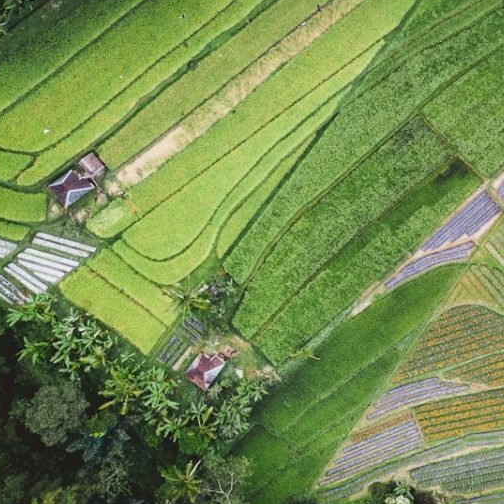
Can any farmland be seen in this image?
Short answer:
Yes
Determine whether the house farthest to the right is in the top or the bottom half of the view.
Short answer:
bottom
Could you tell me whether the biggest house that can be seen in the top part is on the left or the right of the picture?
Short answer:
left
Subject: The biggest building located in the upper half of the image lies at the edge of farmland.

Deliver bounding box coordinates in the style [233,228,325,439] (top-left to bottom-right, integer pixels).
[47,169,97,210]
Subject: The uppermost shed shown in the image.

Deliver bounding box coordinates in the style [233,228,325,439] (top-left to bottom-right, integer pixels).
[78,152,106,176]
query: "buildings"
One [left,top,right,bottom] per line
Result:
[47,169,97,210]
[184,352,227,392]
[78,152,106,176]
